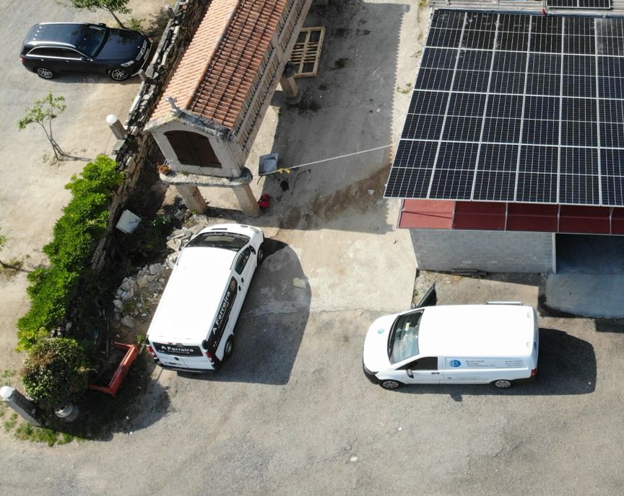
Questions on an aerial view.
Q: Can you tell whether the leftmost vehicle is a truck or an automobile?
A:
automobile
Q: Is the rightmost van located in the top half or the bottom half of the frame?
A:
bottom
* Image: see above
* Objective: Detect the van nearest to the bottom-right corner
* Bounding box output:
[357,283,539,390]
